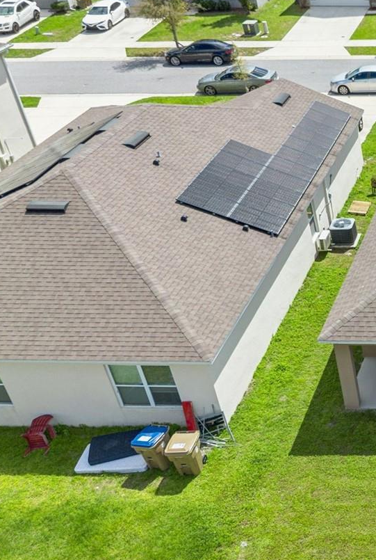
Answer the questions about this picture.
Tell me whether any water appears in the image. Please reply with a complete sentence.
No, no water is visible.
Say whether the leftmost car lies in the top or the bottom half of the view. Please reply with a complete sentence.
It is in the top half that the leftmost car appears.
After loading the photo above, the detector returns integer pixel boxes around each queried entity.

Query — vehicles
[75,0,124,28]
[201,65,284,92]
[0,0,38,29]
[165,41,242,69]
[331,63,376,91]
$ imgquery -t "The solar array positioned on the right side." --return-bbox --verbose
[176,99,353,232]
